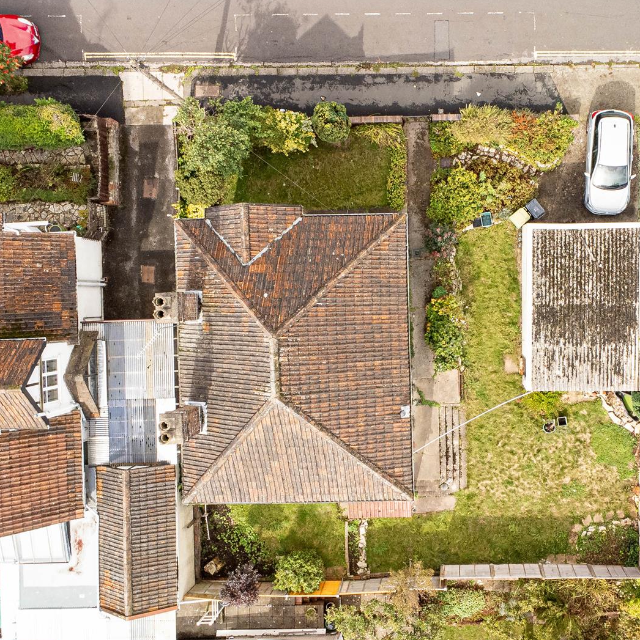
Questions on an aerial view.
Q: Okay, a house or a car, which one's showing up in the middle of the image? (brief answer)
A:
house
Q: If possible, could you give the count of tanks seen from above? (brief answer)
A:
0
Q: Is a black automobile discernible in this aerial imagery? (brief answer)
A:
No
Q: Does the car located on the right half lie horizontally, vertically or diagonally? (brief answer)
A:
vertically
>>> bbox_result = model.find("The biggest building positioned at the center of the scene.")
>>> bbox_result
[150,204,416,518]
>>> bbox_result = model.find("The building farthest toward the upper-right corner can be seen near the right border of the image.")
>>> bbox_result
[523,221,640,392]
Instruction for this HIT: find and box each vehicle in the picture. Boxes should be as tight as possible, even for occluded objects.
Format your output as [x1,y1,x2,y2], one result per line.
[0,16,44,67]
[583,110,638,216]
